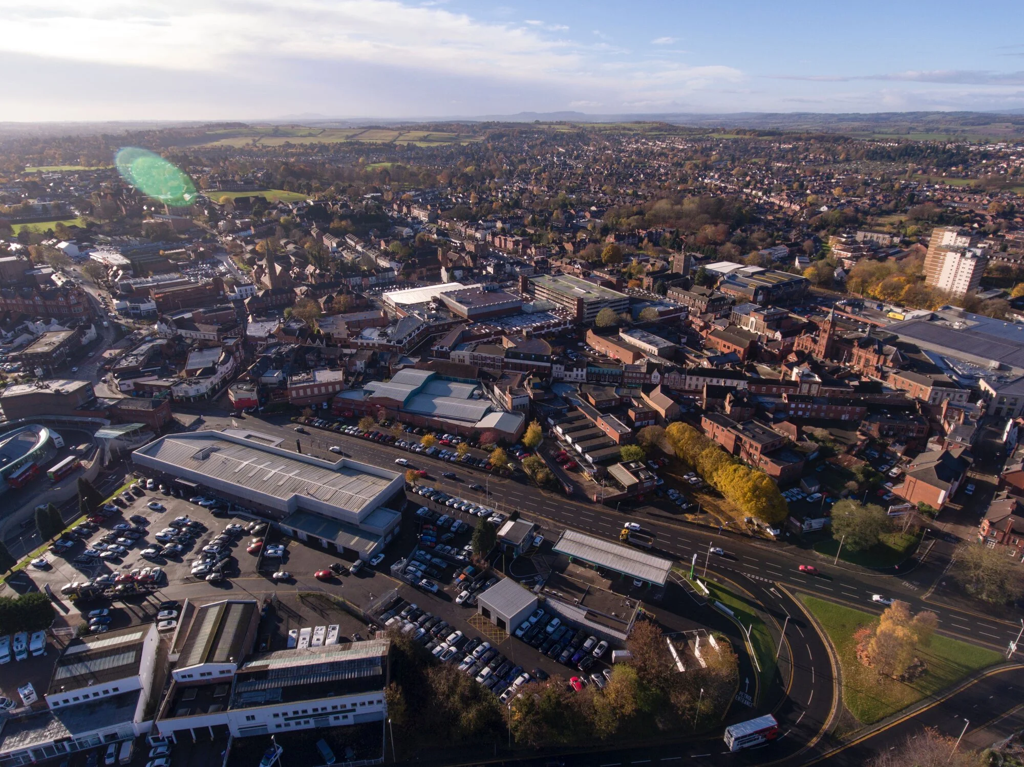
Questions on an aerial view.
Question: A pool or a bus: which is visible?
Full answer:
Visible in the photo is a bus.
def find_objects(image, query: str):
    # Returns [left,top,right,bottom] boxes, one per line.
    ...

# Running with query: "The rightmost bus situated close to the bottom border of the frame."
[723,707,786,748]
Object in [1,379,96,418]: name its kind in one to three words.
building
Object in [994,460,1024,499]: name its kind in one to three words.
house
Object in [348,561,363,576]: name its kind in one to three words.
car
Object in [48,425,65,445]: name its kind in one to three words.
vehicle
